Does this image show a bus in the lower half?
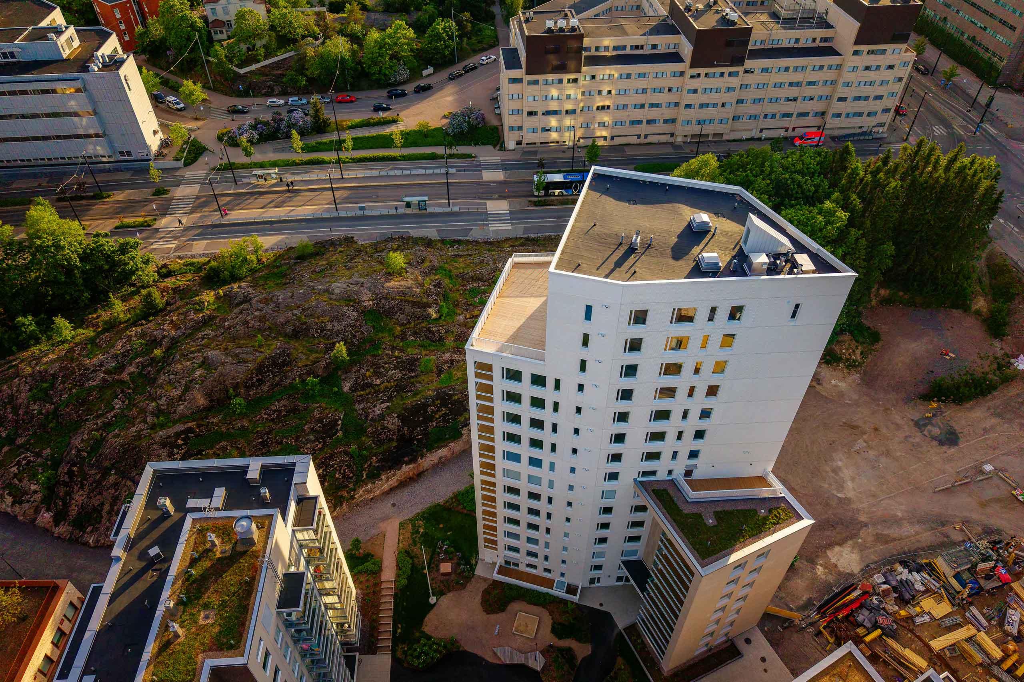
No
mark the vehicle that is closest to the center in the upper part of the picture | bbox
[533,170,590,195]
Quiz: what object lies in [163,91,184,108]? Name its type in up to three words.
vehicle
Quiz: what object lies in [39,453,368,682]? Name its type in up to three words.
building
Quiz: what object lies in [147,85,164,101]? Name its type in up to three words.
car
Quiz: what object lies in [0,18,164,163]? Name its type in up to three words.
building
